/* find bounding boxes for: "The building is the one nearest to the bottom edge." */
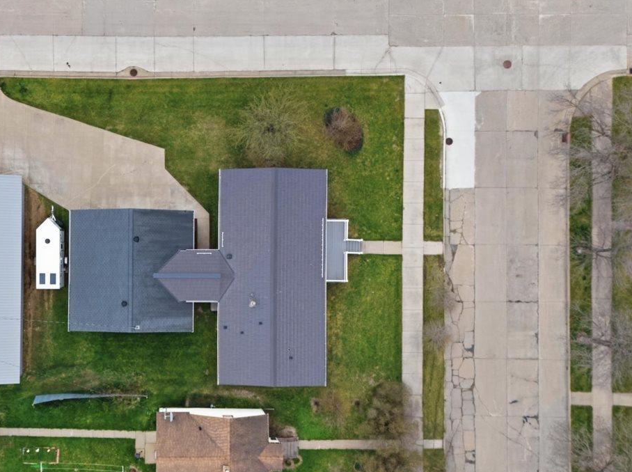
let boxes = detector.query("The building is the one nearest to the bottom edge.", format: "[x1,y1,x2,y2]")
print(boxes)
[156,406,285,472]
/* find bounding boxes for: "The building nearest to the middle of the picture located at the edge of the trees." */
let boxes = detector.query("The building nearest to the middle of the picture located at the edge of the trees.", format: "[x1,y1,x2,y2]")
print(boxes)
[154,166,367,389]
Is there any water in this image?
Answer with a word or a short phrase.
No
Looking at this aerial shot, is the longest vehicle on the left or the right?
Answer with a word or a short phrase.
left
